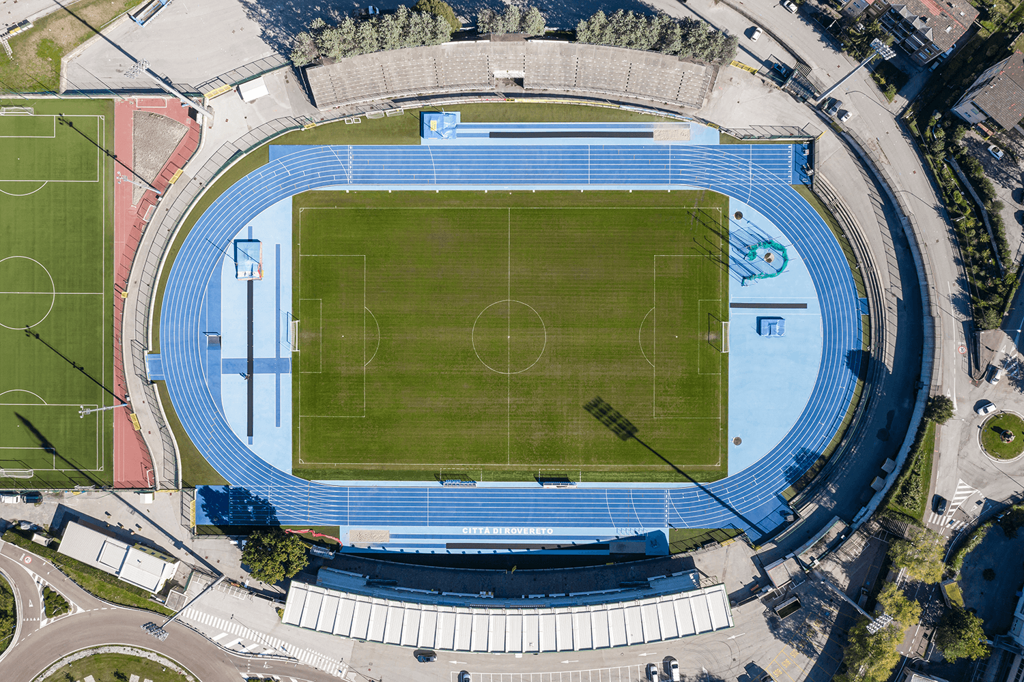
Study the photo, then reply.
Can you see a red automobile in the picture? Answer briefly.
No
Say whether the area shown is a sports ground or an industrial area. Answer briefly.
sports ground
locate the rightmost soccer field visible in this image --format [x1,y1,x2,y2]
[292,190,729,482]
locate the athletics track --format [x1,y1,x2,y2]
[147,144,869,544]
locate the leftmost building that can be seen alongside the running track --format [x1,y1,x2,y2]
[58,513,187,594]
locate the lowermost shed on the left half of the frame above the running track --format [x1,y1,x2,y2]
[240,77,271,104]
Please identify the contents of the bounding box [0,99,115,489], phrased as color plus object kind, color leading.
green soccer field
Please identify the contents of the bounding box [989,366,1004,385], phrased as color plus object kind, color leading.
white car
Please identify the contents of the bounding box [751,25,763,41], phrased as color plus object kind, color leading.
white vehicle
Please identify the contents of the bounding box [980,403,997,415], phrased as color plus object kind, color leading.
white vehicle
